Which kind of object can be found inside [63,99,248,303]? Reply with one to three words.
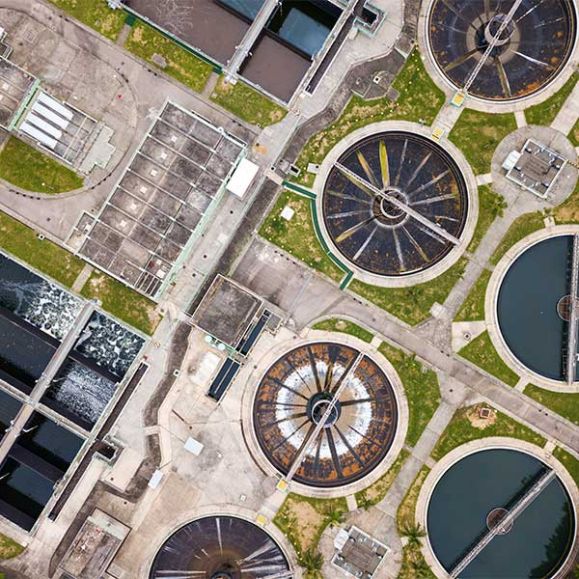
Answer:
building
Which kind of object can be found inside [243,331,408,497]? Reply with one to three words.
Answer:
storage tank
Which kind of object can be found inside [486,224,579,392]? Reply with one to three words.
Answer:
storage tank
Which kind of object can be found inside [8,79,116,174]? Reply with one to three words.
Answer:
house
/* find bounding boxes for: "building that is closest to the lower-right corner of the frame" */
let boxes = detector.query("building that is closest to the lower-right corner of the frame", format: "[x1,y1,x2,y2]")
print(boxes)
[331,523,391,579]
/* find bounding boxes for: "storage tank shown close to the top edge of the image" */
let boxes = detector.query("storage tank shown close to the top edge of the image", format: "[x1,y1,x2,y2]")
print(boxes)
[418,0,579,113]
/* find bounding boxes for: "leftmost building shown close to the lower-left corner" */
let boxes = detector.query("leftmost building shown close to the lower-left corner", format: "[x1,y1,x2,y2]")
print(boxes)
[59,504,134,579]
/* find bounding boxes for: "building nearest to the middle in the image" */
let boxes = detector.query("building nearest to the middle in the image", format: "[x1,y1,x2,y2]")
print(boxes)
[192,275,261,344]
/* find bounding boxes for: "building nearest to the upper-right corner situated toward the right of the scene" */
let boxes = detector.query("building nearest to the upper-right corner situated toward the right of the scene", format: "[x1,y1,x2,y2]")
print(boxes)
[505,140,566,199]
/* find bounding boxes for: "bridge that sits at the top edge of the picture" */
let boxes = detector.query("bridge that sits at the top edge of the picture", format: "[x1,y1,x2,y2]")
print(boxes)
[460,0,524,92]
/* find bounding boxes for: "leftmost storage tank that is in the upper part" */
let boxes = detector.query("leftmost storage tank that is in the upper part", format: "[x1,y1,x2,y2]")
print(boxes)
[314,121,479,286]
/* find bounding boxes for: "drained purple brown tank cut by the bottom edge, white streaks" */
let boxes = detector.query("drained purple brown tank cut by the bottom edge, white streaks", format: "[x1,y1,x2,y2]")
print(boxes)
[137,505,303,579]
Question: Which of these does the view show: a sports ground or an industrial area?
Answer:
industrial area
